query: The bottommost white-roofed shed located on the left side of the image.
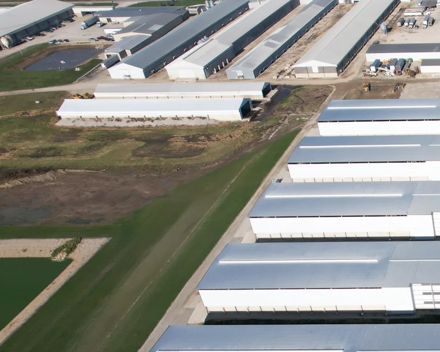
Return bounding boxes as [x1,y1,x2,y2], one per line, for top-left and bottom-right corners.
[55,99,254,119]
